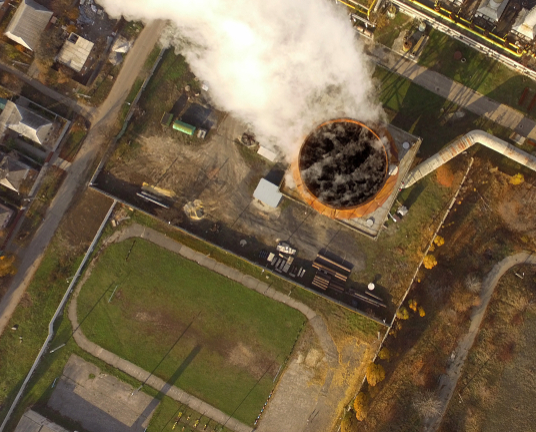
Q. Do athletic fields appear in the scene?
Yes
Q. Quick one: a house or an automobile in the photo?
house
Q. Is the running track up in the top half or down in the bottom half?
bottom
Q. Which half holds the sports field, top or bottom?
bottom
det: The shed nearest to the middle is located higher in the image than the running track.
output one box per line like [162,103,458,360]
[256,181,280,205]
